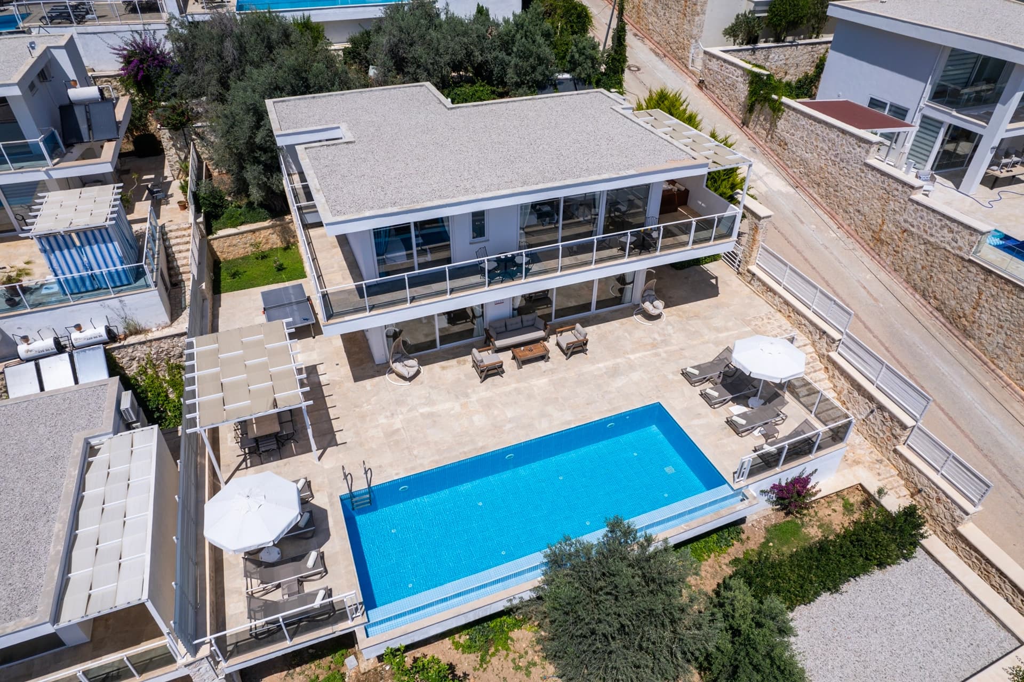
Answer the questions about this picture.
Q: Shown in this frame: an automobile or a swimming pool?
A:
swimming pool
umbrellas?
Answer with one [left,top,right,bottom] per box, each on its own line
[202,467,303,565]
[733,334,809,407]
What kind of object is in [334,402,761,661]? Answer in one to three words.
swimming pool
